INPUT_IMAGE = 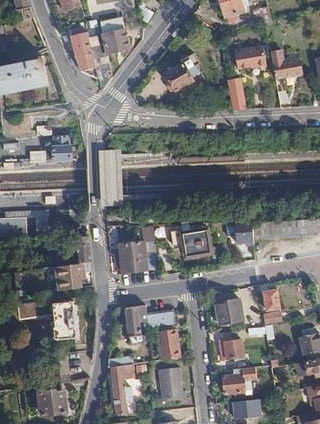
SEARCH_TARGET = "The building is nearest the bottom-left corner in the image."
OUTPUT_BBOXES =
[37,387,69,417]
